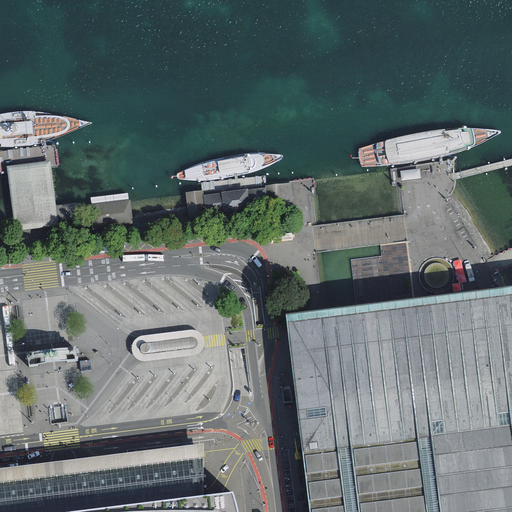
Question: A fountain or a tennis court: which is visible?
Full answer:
The one in the frame is a fountain.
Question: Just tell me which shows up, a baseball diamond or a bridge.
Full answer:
Visible in the photo is a bridge.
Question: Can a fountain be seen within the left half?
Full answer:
No, within the left half there is no fountain.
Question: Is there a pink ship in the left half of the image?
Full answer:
No, the scene shows no pink ship in the left half of the image.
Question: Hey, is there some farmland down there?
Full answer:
No, farmland can't be seen anywhere here.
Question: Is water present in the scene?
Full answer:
Yes, there's water in this view.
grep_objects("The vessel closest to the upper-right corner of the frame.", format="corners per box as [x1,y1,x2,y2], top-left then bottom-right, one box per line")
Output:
[350,125,501,168]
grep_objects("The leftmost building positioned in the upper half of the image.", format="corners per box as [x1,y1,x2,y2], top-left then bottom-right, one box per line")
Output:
[6,161,58,230]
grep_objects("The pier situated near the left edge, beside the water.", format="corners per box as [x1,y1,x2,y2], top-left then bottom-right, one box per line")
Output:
[0,145,57,168]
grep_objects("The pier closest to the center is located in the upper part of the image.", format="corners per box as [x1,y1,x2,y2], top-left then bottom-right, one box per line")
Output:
[202,176,263,191]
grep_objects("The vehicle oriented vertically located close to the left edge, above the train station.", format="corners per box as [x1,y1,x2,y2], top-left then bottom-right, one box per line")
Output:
[0,305,15,371]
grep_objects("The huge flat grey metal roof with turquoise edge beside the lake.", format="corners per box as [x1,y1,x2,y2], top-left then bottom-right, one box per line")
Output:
[287,288,512,512]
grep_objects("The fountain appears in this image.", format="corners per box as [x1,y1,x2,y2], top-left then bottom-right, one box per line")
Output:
[420,257,454,291]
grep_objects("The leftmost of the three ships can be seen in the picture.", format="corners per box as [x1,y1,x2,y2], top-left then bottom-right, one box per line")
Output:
[0,110,94,149]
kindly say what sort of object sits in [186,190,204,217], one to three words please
building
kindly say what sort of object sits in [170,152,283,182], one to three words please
ship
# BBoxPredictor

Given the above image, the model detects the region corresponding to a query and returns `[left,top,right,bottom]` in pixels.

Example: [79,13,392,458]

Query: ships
[0,110,94,149]
[170,152,283,182]
[350,125,501,168]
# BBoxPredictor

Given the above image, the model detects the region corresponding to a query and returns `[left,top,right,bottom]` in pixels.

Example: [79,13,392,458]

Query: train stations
[0,443,204,512]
